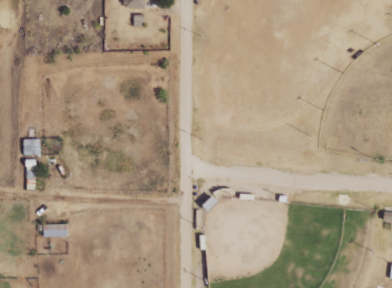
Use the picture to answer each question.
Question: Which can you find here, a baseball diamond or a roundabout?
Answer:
baseball diamond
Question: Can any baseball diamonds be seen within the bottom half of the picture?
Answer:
Yes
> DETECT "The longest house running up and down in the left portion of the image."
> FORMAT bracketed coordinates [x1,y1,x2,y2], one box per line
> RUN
[25,158,37,190]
